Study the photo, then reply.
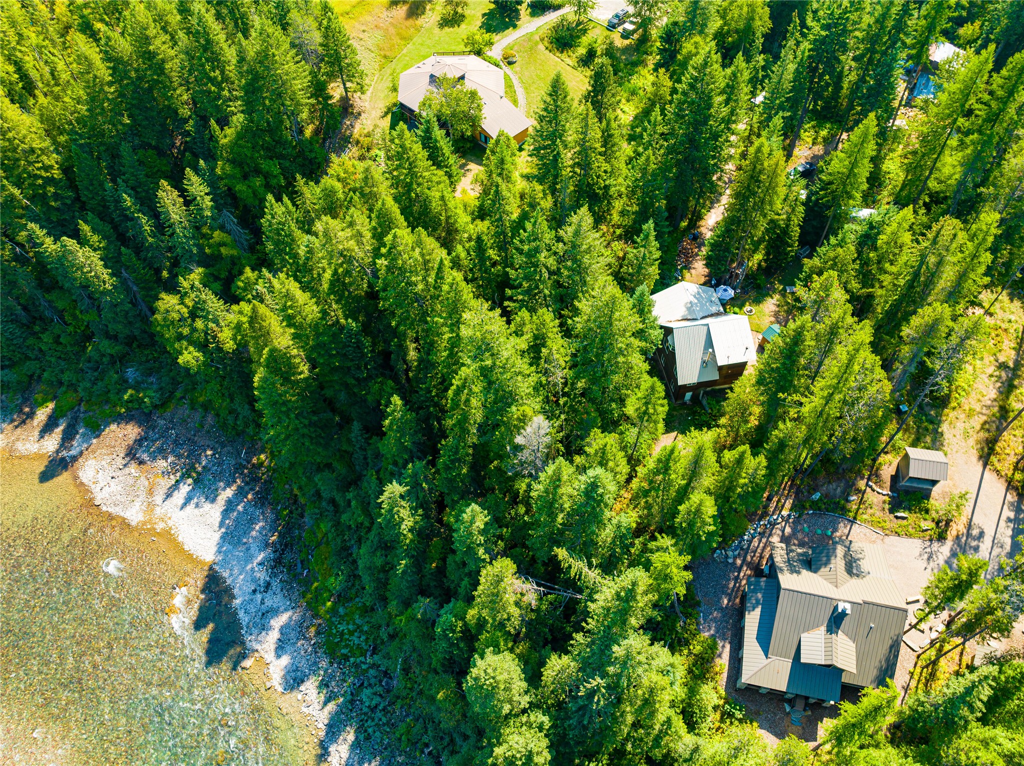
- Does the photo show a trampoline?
No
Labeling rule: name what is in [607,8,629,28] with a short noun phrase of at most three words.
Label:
car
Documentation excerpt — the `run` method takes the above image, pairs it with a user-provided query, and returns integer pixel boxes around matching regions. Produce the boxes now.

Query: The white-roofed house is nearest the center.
[648,280,757,405]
